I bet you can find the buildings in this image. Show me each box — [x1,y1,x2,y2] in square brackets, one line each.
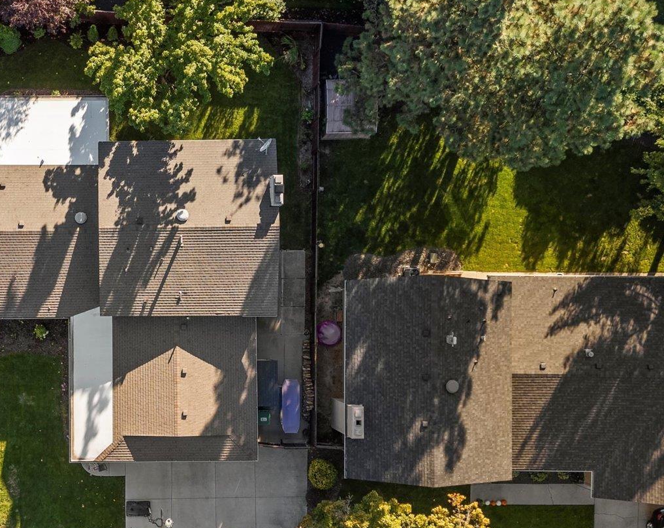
[0,96,285,465]
[320,81,377,142]
[329,274,664,501]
